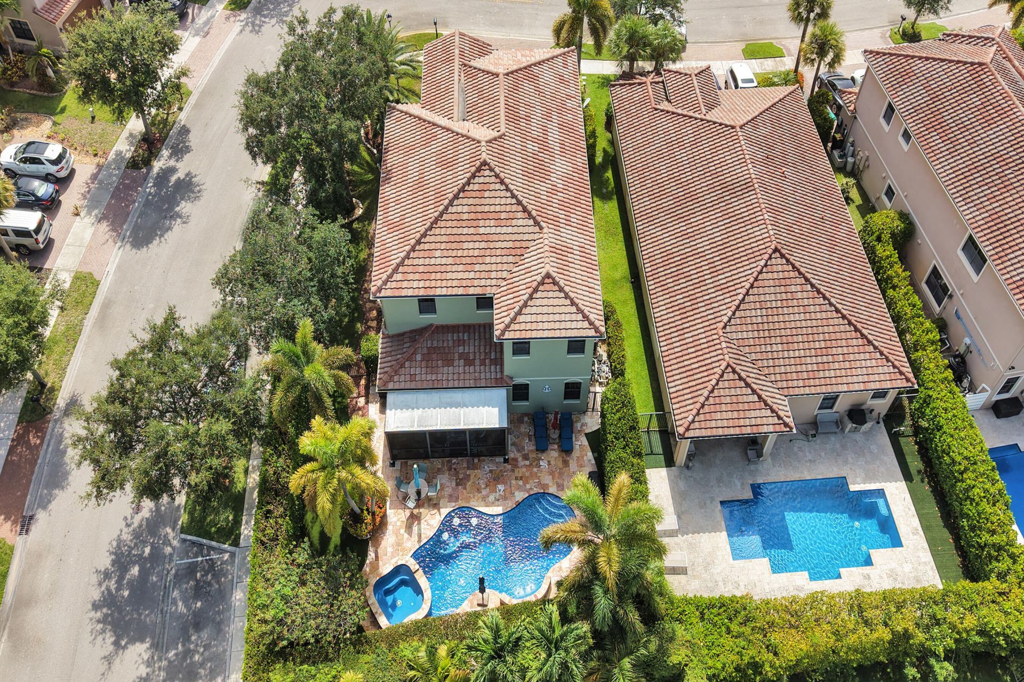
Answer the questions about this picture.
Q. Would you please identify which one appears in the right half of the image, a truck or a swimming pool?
swimming pool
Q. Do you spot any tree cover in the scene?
Yes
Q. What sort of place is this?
residential area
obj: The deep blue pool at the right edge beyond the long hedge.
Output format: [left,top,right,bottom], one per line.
[983,437,1024,537]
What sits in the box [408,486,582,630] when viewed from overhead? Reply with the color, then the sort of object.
blue swimming pool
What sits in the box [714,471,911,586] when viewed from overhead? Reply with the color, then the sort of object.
blue swimming pool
